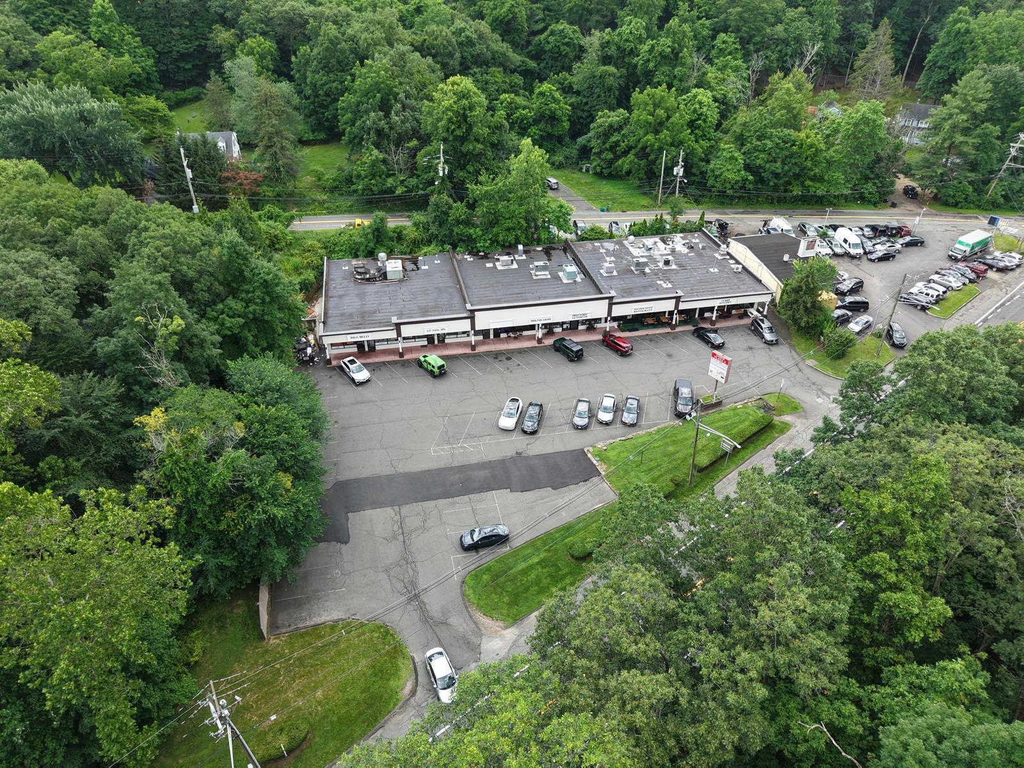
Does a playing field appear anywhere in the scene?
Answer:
No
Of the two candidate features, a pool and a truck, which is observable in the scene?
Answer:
truck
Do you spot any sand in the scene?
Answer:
No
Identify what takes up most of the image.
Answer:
trees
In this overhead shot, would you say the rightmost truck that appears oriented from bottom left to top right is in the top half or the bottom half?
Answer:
top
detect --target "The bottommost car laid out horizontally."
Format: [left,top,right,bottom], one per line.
[456,522,514,553]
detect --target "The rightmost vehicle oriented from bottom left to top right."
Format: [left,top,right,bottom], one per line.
[954,223,1002,259]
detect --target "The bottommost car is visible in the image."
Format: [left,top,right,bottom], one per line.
[423,642,461,708]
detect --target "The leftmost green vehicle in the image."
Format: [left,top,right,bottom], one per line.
[414,352,450,378]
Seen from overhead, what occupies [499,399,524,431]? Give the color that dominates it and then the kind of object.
white car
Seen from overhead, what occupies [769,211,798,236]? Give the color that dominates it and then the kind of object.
white truck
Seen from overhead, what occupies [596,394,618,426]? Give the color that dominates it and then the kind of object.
white car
